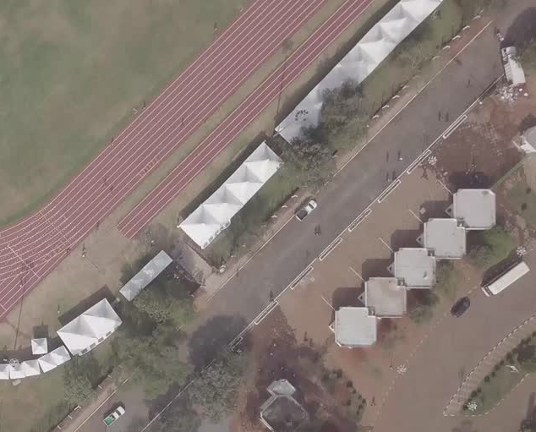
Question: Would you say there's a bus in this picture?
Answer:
Yes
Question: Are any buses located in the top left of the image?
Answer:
No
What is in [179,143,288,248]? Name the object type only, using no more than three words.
tent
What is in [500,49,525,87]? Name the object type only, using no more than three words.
truck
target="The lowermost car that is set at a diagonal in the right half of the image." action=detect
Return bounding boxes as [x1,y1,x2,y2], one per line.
[451,297,473,316]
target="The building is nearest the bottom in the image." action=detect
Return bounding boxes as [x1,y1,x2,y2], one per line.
[259,379,309,432]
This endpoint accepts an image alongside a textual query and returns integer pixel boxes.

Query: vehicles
[483,262,532,298]
[295,199,318,222]
[451,297,473,316]
[500,49,525,87]
[103,405,126,428]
